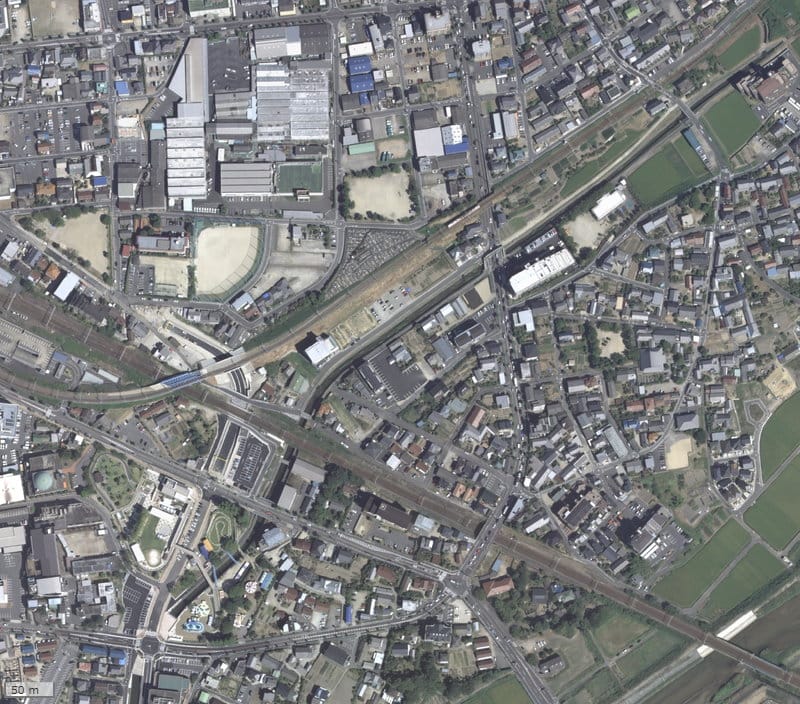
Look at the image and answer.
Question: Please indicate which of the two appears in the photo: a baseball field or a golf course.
baseball field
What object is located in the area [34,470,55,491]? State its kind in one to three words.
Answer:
building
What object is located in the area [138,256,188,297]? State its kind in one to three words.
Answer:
sports field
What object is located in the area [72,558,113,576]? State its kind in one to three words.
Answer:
building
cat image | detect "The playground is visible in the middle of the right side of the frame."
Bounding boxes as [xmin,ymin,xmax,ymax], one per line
[598,331,625,357]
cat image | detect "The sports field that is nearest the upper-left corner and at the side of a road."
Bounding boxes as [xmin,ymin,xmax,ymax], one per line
[40,212,109,282]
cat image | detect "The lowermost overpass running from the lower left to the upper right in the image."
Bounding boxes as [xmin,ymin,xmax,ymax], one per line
[452,492,516,582]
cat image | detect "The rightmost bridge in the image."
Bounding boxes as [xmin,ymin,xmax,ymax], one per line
[705,630,800,690]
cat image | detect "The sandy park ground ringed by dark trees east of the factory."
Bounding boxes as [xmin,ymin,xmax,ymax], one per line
[352,173,410,218]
